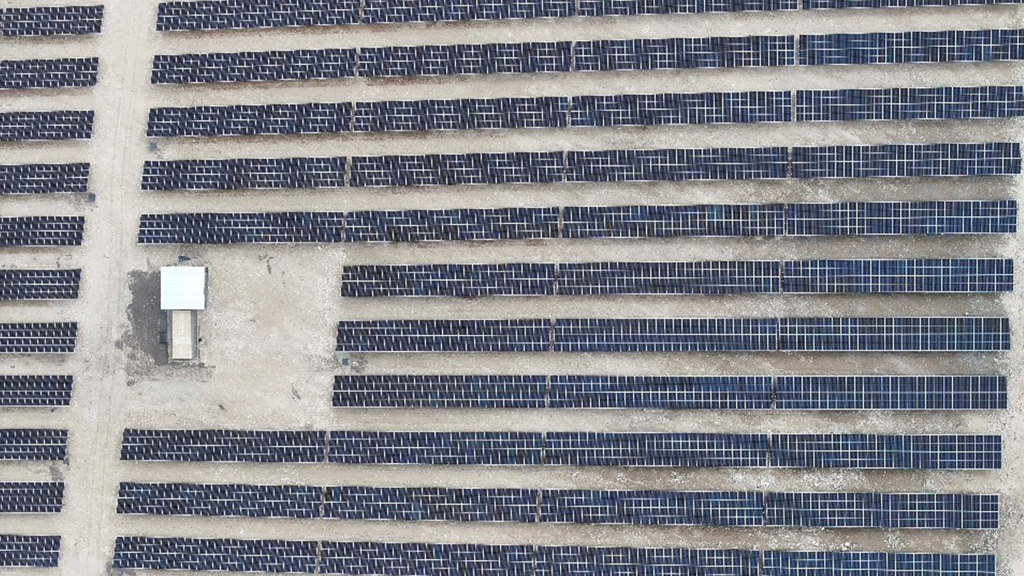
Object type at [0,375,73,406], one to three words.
solar array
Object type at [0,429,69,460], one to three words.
solar array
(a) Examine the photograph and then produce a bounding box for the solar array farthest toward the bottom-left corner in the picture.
[0,534,61,567]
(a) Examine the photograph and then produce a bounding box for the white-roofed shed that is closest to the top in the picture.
[161,266,213,310]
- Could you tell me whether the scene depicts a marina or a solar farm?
solar farm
